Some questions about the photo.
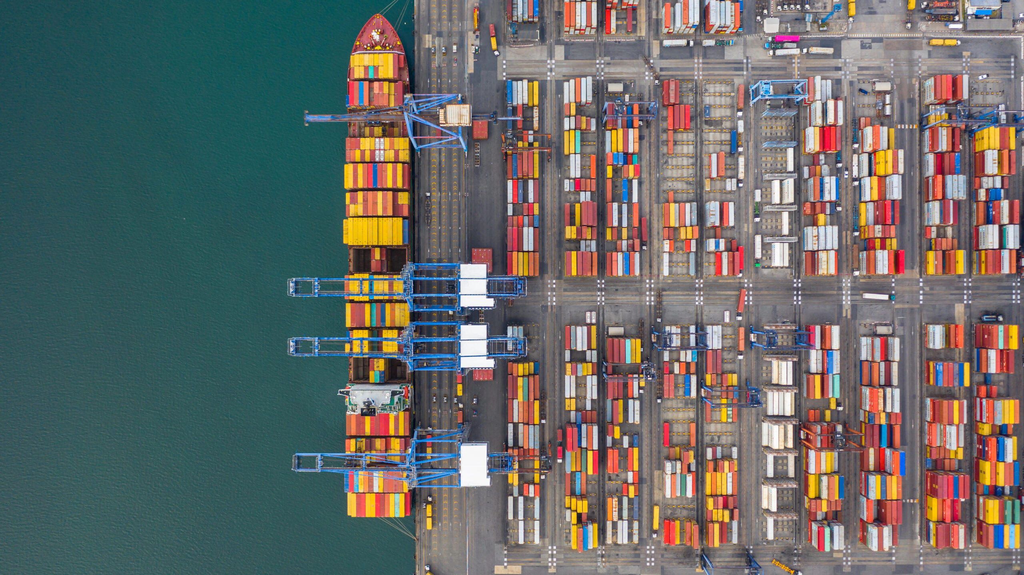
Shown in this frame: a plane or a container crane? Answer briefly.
container crane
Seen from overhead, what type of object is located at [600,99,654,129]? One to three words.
container crane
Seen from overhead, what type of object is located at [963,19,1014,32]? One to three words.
building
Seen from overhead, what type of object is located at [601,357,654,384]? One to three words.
container crane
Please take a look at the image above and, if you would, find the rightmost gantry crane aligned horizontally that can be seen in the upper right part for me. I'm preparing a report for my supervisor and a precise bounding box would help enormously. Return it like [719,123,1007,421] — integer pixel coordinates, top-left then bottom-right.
[966,106,1024,136]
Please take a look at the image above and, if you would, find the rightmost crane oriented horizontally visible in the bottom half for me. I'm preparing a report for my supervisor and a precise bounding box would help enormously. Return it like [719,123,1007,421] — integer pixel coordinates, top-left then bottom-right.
[797,424,860,452]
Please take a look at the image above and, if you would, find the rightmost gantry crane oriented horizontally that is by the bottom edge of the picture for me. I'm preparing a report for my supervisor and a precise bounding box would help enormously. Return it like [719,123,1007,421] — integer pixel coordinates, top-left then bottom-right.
[699,550,757,575]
